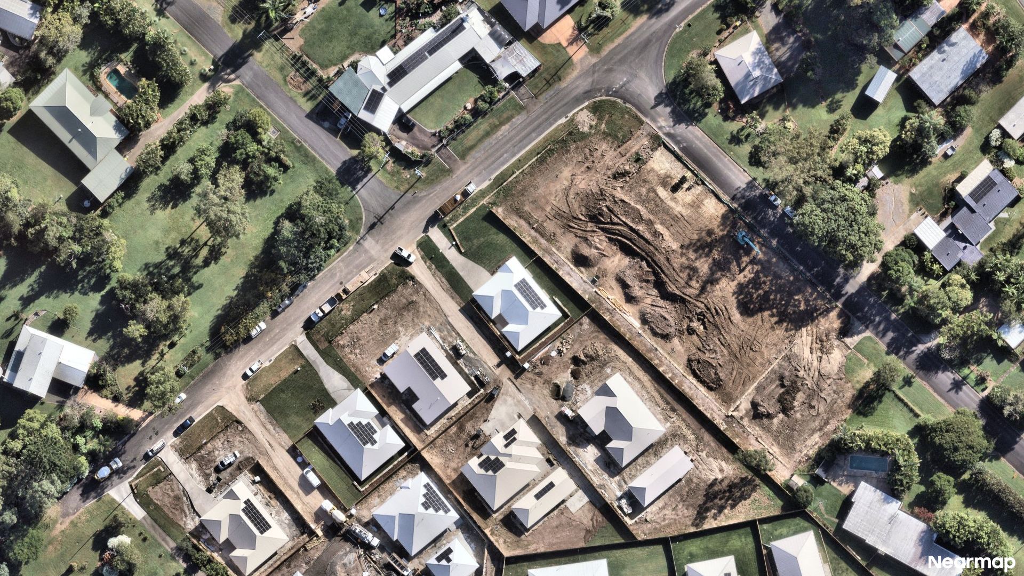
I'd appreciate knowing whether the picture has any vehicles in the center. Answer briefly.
Yes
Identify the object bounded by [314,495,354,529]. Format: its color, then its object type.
white truck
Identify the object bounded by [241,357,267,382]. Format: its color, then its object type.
white truck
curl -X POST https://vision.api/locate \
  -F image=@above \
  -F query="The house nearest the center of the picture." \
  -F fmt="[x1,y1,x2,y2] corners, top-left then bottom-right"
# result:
[472,256,563,352]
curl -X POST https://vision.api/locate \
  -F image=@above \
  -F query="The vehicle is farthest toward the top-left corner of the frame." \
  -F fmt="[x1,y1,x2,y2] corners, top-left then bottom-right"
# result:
[333,108,354,134]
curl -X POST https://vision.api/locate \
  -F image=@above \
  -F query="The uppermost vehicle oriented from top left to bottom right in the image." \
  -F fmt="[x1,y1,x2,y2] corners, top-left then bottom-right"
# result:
[397,111,421,133]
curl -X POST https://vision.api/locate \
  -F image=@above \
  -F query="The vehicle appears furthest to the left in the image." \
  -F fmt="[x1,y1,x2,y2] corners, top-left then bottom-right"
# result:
[86,450,129,486]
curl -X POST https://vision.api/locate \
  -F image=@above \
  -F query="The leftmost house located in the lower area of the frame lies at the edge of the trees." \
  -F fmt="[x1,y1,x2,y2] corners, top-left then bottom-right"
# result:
[2,324,95,398]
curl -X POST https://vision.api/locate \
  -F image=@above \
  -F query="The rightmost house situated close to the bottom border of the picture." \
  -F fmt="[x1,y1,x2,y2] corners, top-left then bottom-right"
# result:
[842,481,966,576]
